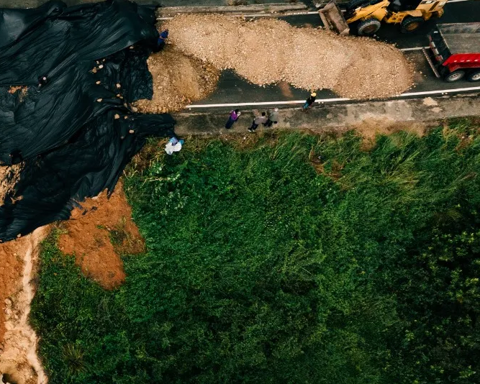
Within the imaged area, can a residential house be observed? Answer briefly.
No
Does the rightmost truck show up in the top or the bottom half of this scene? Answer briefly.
top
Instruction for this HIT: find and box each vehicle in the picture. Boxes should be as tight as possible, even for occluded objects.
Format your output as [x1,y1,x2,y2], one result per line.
[414,27,480,80]
[323,0,442,35]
